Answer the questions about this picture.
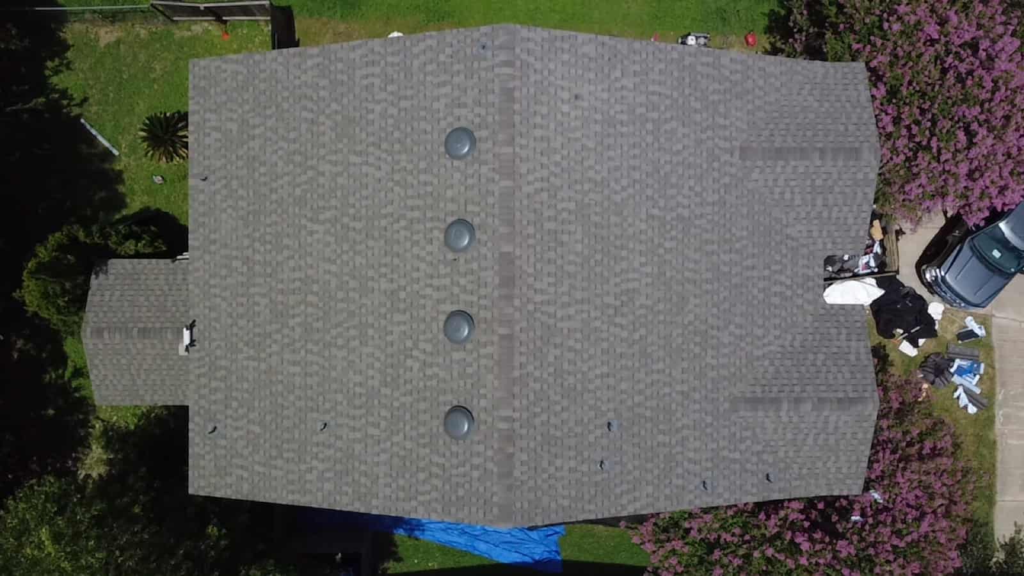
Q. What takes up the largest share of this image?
buildings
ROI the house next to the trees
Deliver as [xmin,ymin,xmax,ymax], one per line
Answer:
[82,23,882,529]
